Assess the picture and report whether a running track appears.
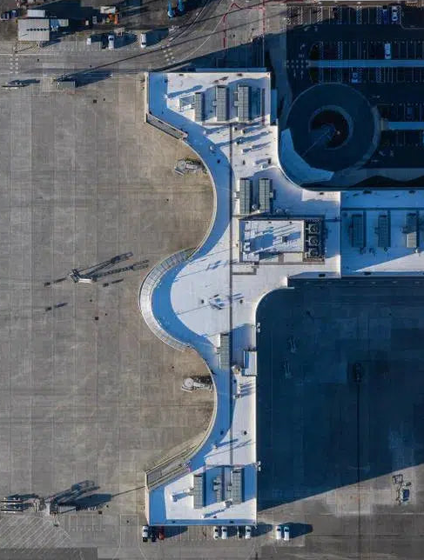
No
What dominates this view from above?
paved ground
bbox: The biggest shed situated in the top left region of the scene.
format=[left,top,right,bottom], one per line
[18,19,50,41]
